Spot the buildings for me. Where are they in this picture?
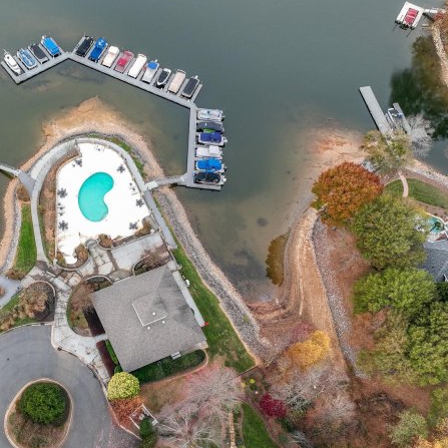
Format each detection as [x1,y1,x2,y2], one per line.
[423,229,448,282]
[91,265,207,372]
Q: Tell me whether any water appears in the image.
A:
Yes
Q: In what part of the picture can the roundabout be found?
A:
bottom left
